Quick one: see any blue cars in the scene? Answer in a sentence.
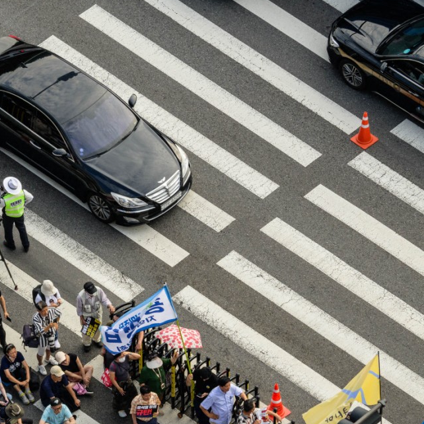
No, this view has no blue car in it.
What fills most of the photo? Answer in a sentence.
The scene is dominated by paved ground.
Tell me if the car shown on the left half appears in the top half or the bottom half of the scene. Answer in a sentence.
The car shown on the left half sits in the top half of the picture.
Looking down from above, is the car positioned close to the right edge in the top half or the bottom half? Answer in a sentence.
The car positioned close to the right edge is in the top half of the image.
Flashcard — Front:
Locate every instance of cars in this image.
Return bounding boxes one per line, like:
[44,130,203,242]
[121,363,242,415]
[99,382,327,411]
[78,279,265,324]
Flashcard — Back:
[324,1,424,131]
[0,34,196,228]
